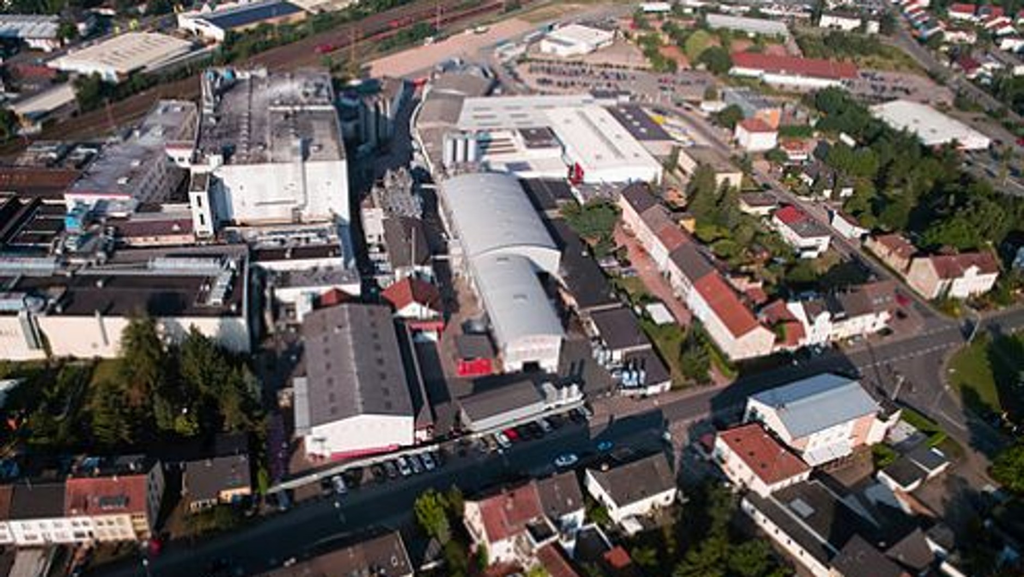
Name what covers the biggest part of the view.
buildings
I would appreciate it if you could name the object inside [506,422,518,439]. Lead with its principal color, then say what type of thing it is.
red vehicle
